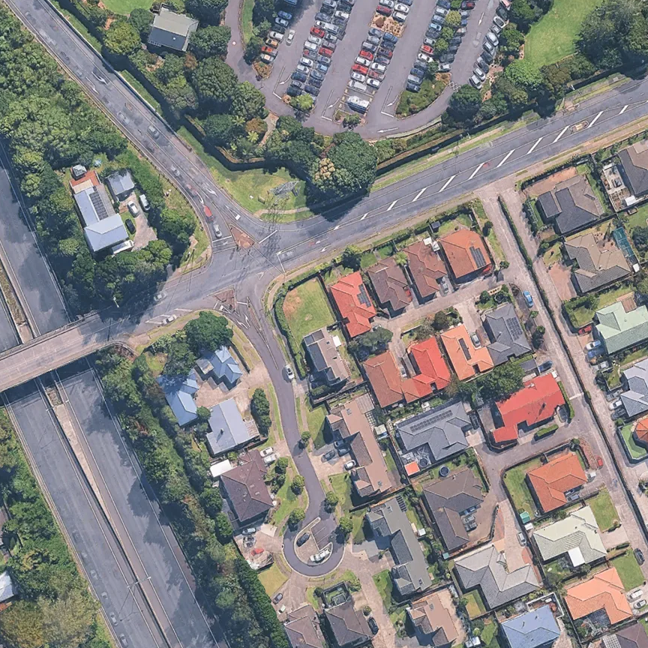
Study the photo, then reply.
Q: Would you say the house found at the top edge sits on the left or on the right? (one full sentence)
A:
The house found at the top edge is on the left side of the image.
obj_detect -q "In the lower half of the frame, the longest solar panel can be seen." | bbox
[410,410,452,432]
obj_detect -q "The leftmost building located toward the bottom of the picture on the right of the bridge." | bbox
[156,371,198,427]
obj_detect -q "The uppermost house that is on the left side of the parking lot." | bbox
[148,4,199,53]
